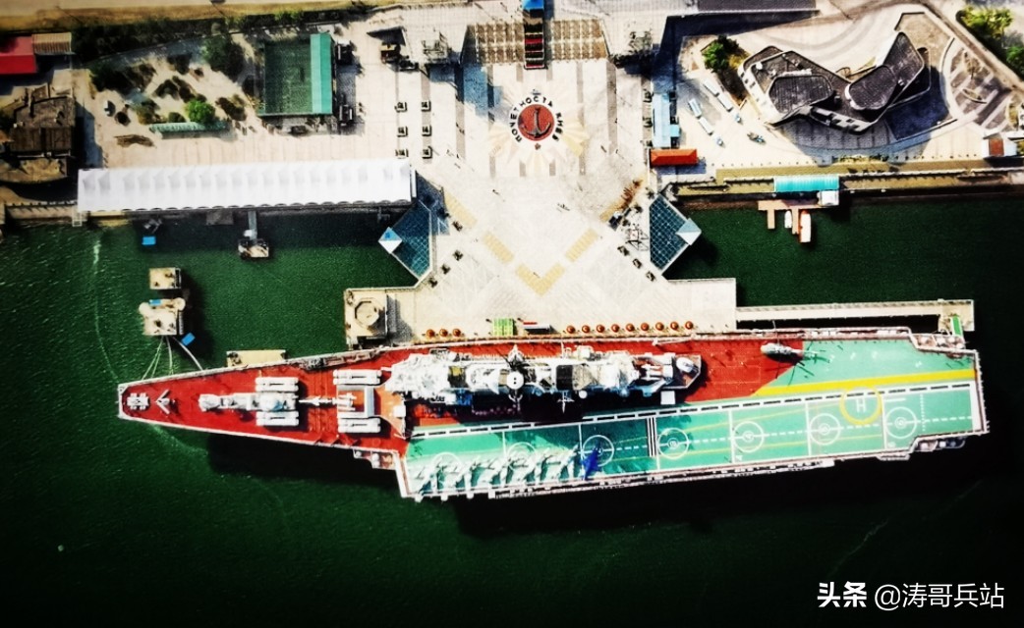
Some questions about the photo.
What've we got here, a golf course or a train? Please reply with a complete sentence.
The image shows a train.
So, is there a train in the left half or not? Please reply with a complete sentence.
No, in the left half there is no train.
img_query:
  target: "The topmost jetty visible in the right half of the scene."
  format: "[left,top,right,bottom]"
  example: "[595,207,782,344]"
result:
[757,200,815,234]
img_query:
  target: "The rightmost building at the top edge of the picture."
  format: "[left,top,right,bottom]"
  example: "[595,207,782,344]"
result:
[735,30,932,135]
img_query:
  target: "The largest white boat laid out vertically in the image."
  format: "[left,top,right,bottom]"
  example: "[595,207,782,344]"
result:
[800,210,813,244]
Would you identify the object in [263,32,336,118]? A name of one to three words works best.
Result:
building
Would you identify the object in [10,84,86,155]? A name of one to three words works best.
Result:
house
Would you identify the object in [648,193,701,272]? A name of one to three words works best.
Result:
building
